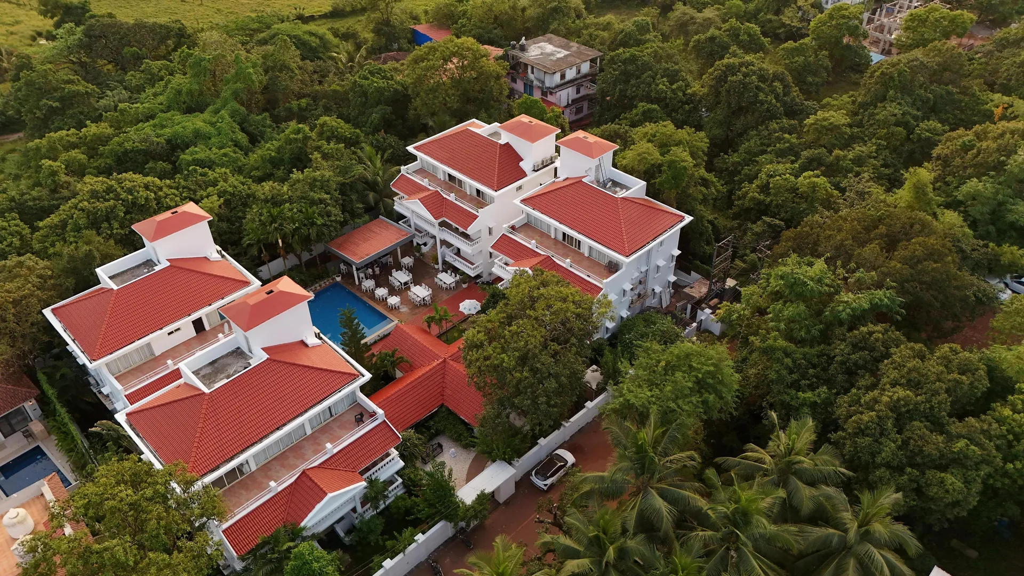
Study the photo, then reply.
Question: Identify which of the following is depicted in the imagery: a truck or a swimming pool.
swimming pool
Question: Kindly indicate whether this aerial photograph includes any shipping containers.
No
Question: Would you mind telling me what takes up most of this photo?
trees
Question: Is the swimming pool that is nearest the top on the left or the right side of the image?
left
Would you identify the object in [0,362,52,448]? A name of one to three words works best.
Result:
house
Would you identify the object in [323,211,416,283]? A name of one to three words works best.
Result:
building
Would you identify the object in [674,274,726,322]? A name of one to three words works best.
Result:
shed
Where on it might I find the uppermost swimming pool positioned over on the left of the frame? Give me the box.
[309,281,391,350]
